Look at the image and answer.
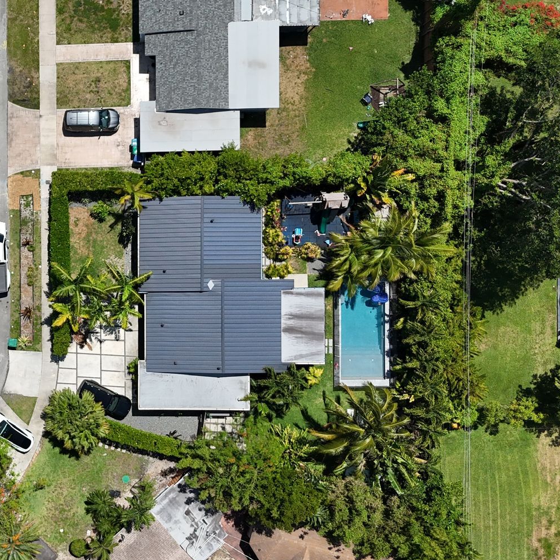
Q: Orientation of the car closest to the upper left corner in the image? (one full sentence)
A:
The car closest to the upper left corner has been laid out from side to side relative to the frame.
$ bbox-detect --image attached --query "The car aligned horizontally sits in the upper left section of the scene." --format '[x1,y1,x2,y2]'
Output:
[62,107,120,136]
